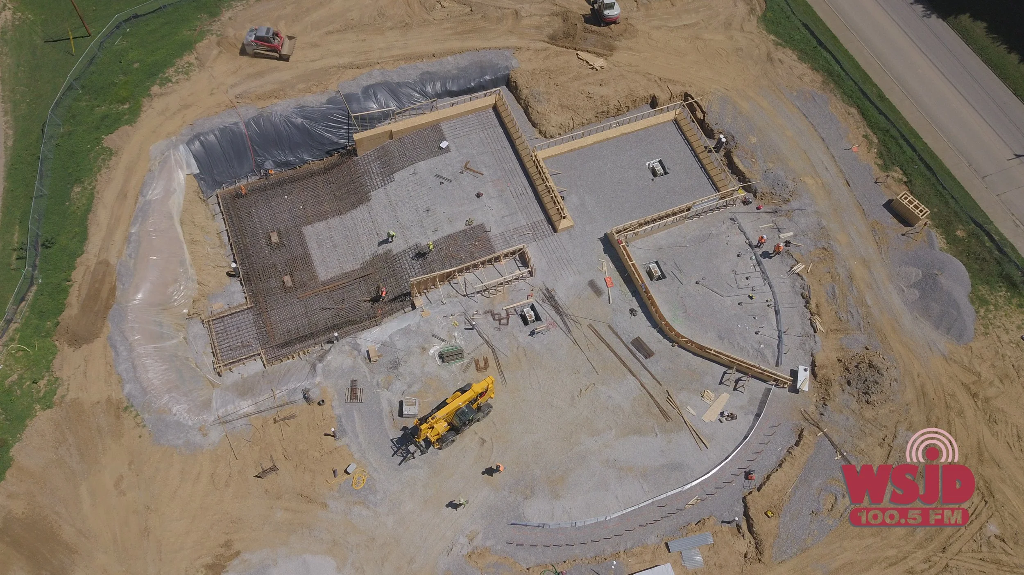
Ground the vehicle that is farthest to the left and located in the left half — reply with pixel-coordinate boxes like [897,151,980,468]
[244,26,304,67]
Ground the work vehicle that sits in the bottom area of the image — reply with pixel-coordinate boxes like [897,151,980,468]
[401,371,499,462]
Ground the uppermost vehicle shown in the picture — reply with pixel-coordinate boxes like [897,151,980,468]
[597,0,623,27]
